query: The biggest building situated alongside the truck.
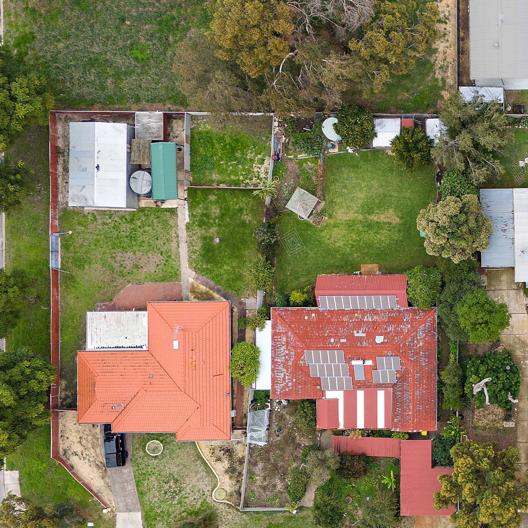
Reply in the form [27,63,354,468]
[76,300,235,442]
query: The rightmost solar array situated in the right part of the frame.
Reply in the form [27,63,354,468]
[372,356,400,383]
